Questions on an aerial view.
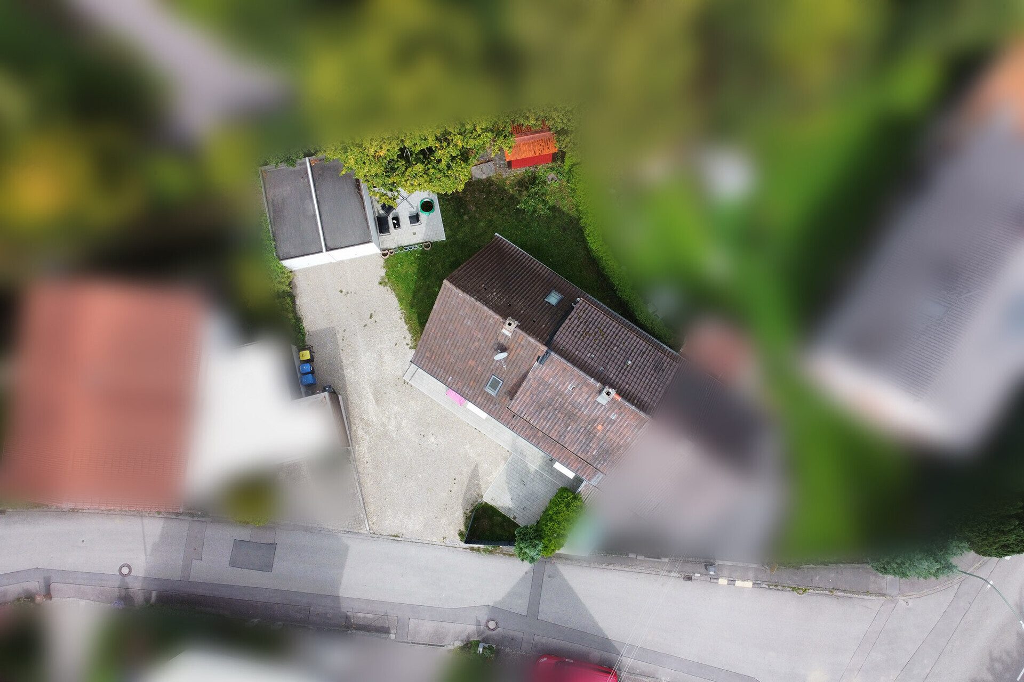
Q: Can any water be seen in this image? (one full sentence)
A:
No, no water is visible.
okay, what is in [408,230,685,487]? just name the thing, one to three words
house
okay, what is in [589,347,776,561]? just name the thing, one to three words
house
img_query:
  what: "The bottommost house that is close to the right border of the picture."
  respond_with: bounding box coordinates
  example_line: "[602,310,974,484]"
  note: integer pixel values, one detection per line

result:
[795,108,1024,458]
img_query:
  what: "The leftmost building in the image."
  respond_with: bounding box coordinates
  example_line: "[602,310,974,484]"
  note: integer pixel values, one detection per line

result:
[5,274,228,513]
